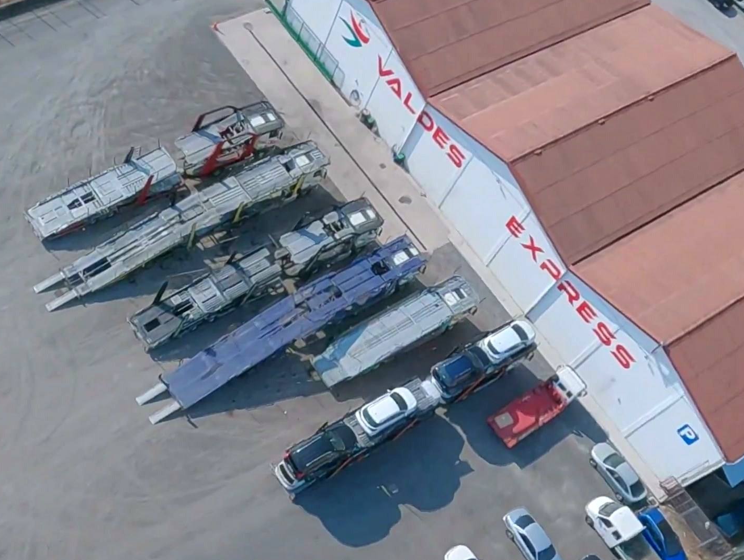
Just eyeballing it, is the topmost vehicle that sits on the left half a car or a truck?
truck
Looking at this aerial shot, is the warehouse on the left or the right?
right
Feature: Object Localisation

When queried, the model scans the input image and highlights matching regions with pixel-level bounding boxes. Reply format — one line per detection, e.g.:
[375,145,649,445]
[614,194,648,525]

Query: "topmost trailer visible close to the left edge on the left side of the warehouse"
[21,136,181,243]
